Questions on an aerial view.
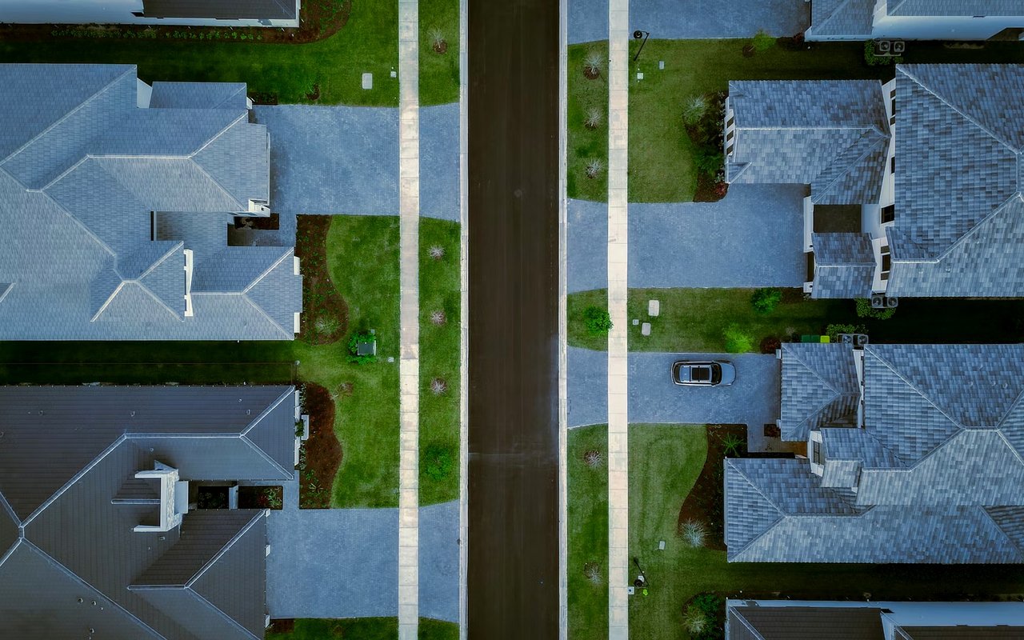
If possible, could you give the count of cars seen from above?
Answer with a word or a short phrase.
one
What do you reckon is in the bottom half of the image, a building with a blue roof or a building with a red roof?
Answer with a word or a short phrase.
building with a blue roof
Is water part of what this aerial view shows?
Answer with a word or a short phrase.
No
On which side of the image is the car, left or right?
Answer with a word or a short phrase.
right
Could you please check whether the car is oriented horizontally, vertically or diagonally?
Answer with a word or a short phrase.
horizontally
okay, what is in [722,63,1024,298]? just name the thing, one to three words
house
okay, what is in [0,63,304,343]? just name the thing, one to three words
house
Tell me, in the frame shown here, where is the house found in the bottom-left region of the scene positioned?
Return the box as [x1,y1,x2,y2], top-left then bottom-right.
[0,384,299,640]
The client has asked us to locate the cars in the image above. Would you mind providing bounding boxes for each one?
[673,360,737,388]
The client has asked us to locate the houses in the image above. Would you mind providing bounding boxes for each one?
[0,384,299,640]
[722,63,1024,298]
[0,63,304,343]
[0,0,301,26]
[724,343,1024,563]
[725,600,1024,640]
[805,0,1024,40]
